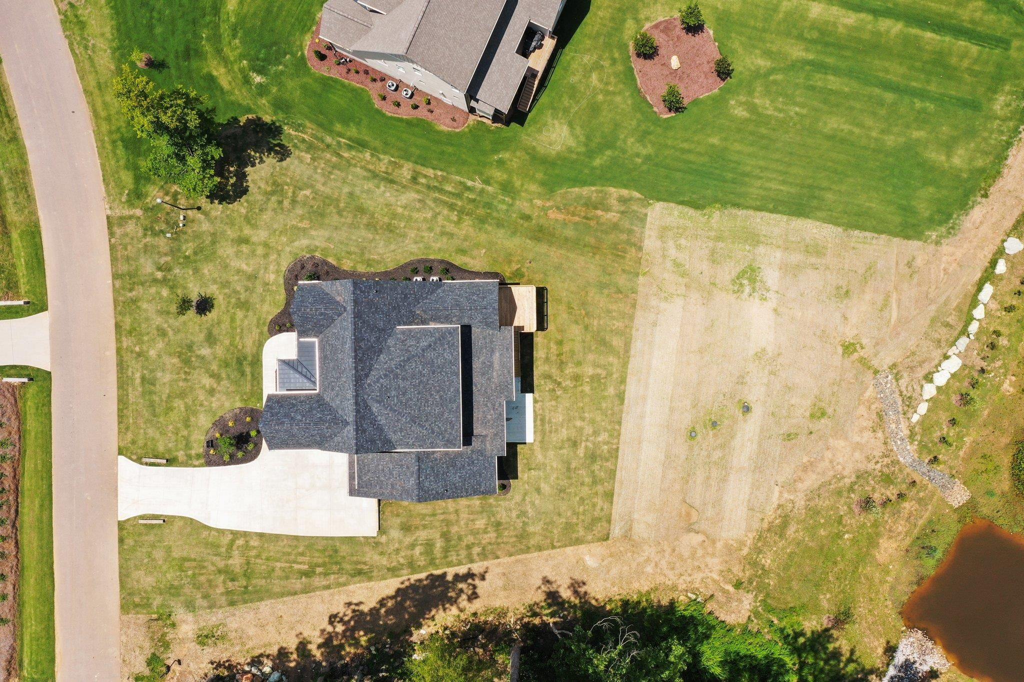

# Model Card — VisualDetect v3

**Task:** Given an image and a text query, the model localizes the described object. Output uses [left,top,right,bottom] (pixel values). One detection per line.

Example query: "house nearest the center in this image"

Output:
[258,279,516,502]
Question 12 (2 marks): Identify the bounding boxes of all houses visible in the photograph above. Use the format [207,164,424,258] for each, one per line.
[258,279,516,502]
[319,0,567,122]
